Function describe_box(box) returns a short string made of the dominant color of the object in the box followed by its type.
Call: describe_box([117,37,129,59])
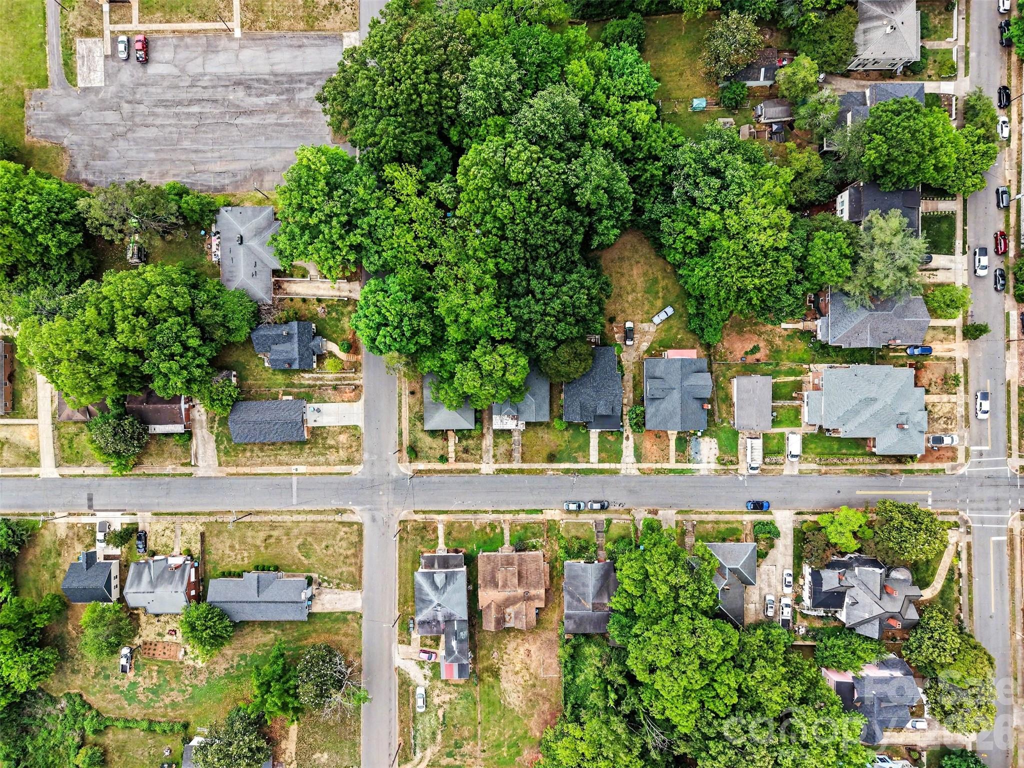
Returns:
white vehicle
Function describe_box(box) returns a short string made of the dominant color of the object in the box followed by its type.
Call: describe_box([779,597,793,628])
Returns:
white vehicle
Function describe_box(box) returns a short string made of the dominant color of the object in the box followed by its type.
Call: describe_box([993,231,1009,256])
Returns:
red car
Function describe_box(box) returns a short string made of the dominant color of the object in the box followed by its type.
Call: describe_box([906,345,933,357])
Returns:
blue vehicle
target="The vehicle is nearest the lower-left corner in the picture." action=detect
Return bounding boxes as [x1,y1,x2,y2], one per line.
[121,646,134,673]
